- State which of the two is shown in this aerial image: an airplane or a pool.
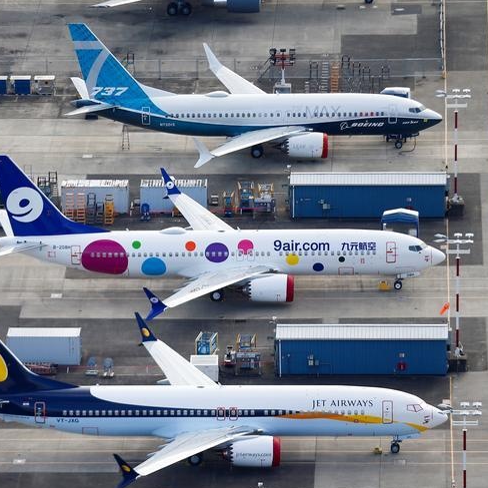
airplane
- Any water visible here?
No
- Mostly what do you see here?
paved ground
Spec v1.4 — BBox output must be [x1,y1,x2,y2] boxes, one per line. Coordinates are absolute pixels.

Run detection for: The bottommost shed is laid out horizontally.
[266,324,455,375]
